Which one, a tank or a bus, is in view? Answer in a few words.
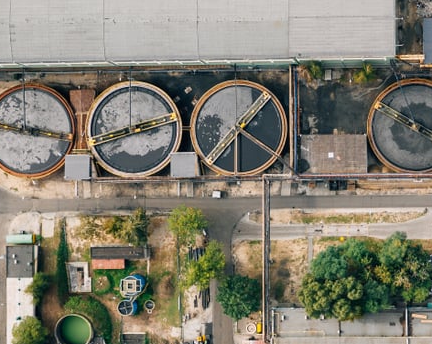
tank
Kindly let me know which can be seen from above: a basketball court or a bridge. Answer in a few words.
bridge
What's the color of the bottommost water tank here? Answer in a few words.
green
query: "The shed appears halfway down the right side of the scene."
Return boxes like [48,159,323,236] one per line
[300,134,367,175]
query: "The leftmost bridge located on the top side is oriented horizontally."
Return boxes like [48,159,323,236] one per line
[0,123,73,142]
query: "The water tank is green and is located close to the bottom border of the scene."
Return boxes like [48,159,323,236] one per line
[55,312,98,344]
